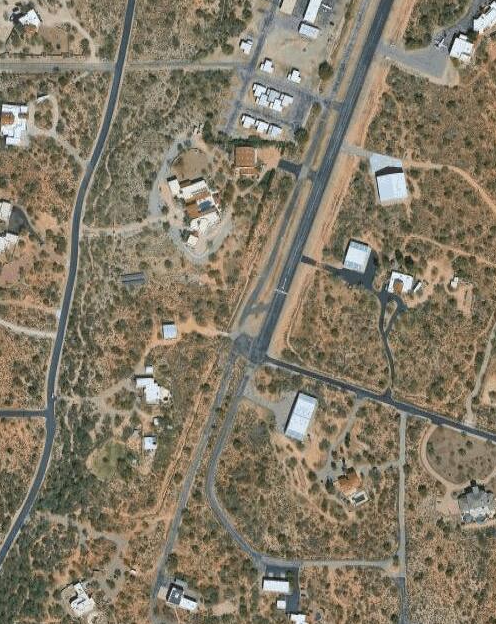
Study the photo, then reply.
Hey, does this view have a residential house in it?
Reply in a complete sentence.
Yes, I can see a residential house in this picture.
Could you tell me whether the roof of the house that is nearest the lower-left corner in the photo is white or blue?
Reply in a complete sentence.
The roof of the house that is nearest the lower-left corner looks white in the image.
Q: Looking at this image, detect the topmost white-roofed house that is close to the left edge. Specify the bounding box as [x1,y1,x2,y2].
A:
[19,9,41,34]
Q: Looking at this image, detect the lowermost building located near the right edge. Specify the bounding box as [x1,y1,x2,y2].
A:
[460,486,495,514]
